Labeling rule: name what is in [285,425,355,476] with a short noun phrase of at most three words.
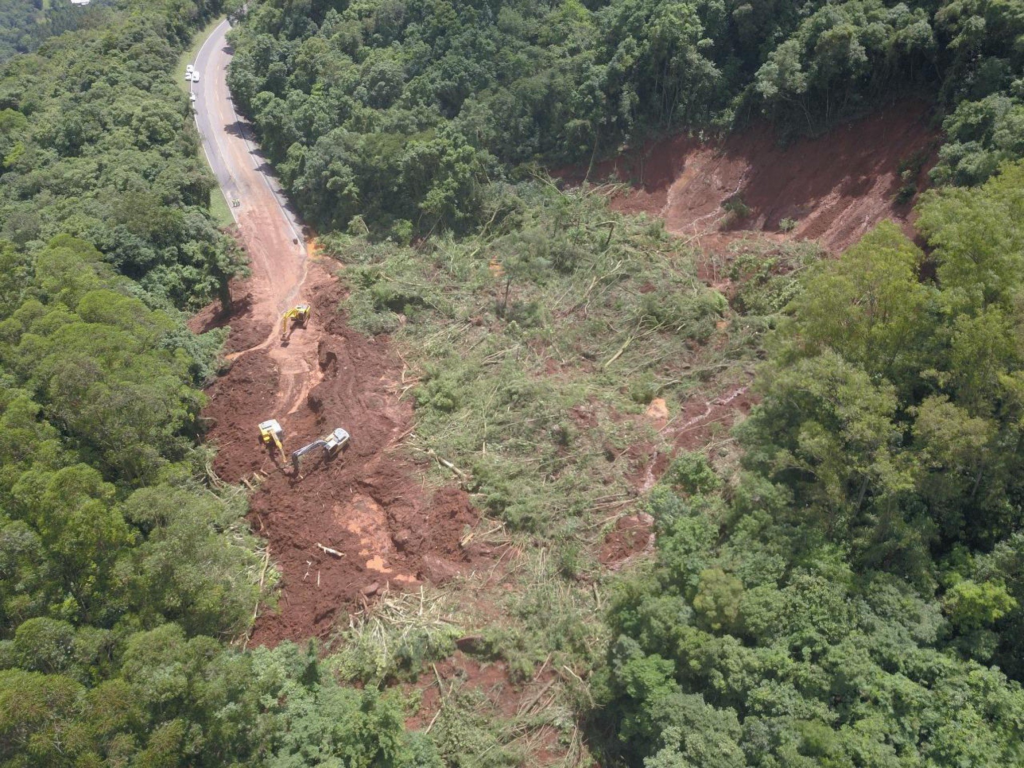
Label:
work vehicle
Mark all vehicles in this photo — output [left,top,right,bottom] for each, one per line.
[285,425,355,476]
[183,71,191,81]
[190,71,199,80]
[278,307,313,342]
[258,414,287,471]
[187,92,196,100]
